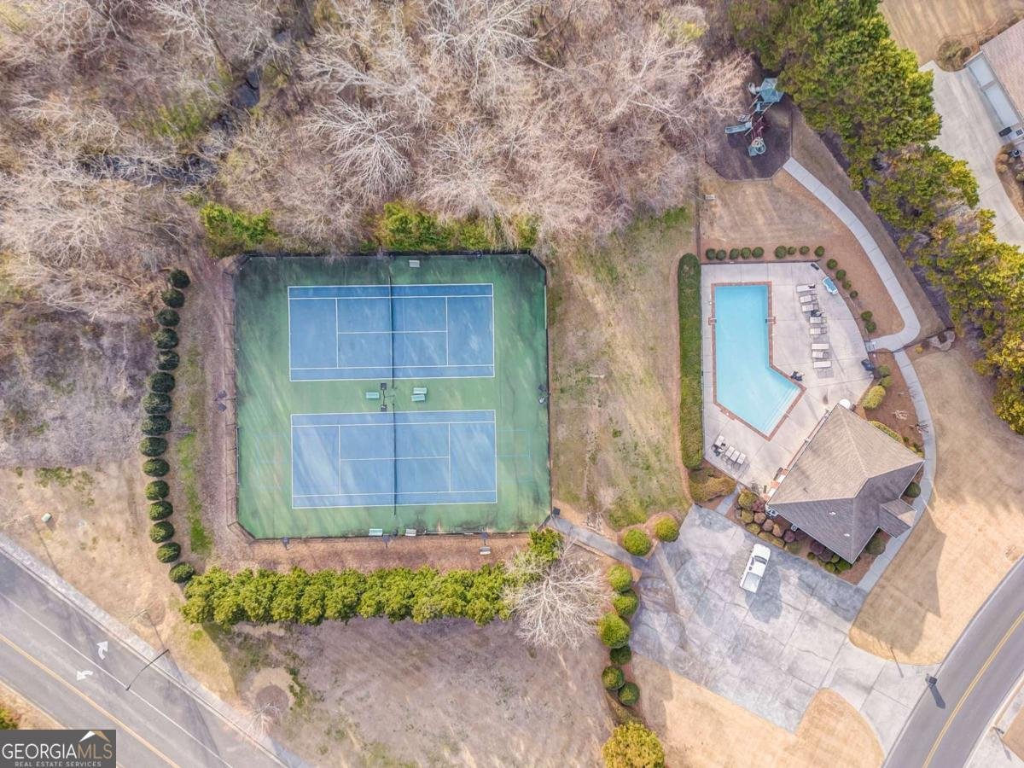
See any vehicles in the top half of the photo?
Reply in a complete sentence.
No, there's no vehicle to be seen in the top half of the photo.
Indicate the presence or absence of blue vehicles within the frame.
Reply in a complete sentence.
No, no blue vehicle can be seen from above.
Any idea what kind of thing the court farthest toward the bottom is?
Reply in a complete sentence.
The court farthest toward the bottom is a tennis court.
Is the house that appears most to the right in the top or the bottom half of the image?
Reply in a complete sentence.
The top half of the photo is where the house that appears most to the right is.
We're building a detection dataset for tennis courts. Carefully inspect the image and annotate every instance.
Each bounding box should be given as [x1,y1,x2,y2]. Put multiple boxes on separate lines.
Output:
[232,254,549,396]
[235,396,550,539]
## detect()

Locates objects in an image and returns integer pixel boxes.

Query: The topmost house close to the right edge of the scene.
[965,25,1024,167]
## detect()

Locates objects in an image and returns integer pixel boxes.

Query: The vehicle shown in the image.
[740,544,771,593]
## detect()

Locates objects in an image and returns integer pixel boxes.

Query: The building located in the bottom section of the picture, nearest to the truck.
[766,402,924,565]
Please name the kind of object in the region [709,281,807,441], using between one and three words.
swimming pool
